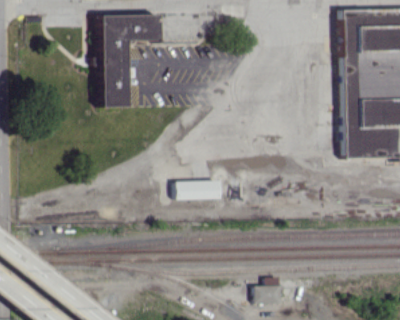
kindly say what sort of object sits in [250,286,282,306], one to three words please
building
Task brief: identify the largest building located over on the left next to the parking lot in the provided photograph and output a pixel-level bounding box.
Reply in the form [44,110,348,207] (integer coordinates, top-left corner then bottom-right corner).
[96,15,162,106]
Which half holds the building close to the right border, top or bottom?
top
